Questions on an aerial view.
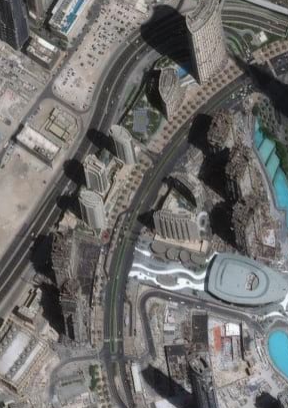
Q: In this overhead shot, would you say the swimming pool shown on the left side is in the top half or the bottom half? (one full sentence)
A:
You can find the swimming pool shown on the left side in the top half.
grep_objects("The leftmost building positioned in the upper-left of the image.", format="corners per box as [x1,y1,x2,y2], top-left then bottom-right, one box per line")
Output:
[0,0,34,55]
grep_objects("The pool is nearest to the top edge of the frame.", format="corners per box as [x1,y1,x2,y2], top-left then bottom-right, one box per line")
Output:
[60,0,84,32]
